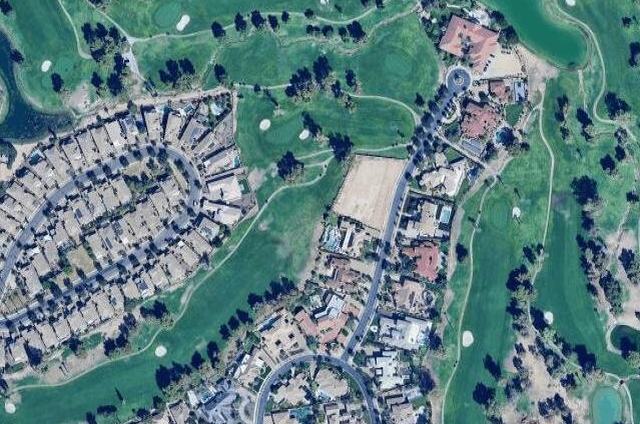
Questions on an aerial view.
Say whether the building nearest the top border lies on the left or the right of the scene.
right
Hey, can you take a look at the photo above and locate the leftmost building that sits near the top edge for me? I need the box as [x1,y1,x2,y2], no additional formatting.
[440,14,498,79]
